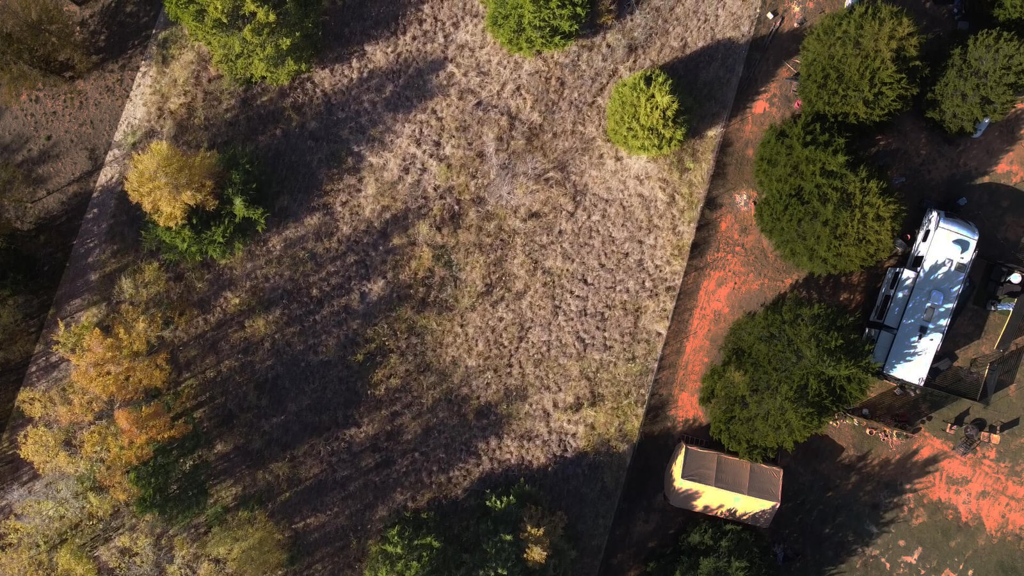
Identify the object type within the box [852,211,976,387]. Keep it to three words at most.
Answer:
trailer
